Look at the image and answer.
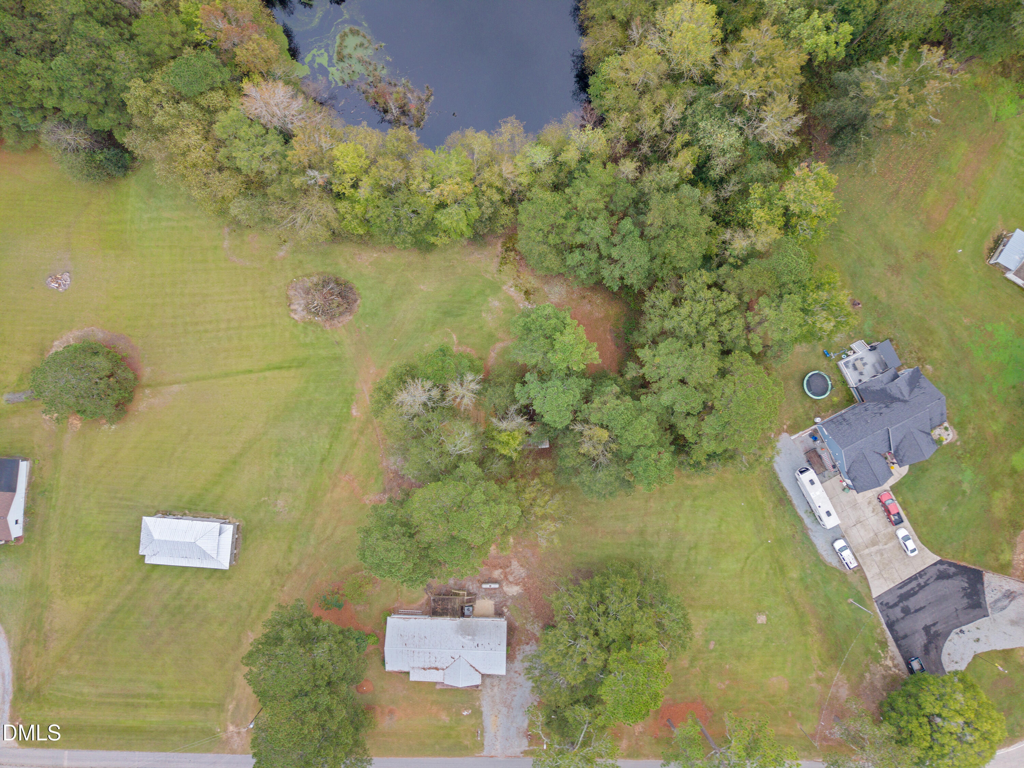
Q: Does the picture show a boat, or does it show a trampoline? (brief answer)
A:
trampoline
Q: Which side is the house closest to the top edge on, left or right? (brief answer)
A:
right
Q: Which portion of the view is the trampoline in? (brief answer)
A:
right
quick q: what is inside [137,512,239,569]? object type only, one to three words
barn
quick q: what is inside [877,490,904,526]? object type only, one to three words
truck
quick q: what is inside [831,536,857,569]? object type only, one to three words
car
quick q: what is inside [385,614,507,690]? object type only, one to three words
house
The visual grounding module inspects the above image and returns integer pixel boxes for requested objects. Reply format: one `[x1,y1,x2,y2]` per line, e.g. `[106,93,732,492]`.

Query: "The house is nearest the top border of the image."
[987,228,1024,288]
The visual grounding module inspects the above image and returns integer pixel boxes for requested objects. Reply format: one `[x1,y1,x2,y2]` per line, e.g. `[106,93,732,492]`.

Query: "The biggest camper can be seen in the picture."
[793,463,842,530]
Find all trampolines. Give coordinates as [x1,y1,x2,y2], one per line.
[802,371,833,399]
